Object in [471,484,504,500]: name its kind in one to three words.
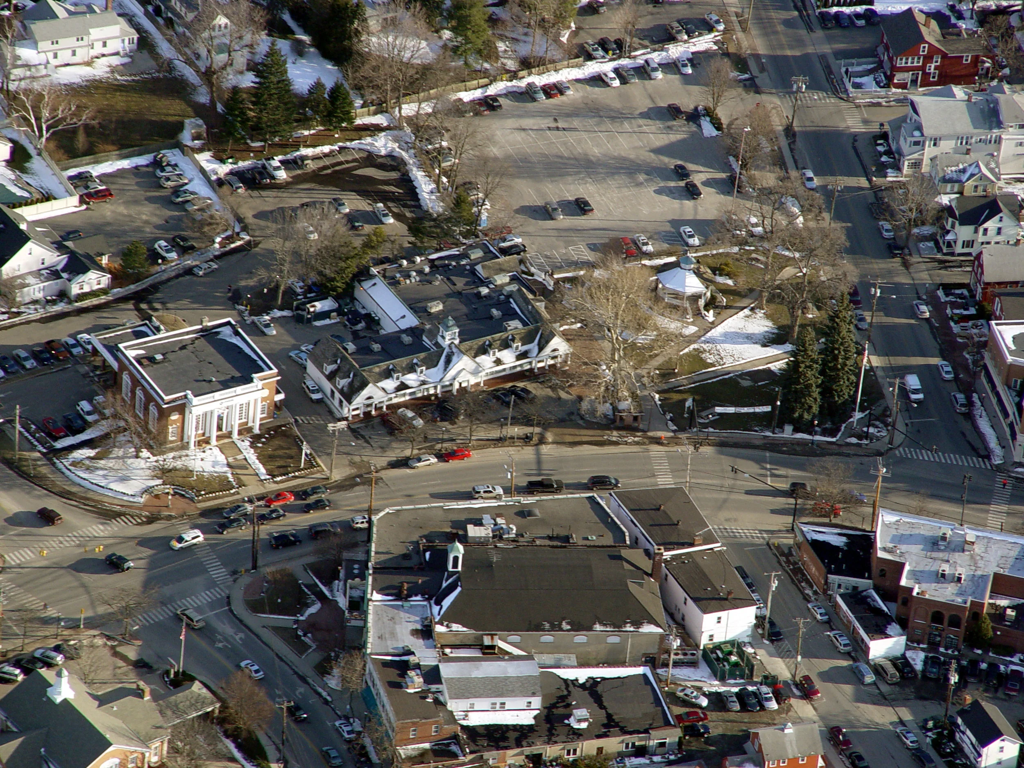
car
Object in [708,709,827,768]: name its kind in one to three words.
house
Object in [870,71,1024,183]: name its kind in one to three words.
house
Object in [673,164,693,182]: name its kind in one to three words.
car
